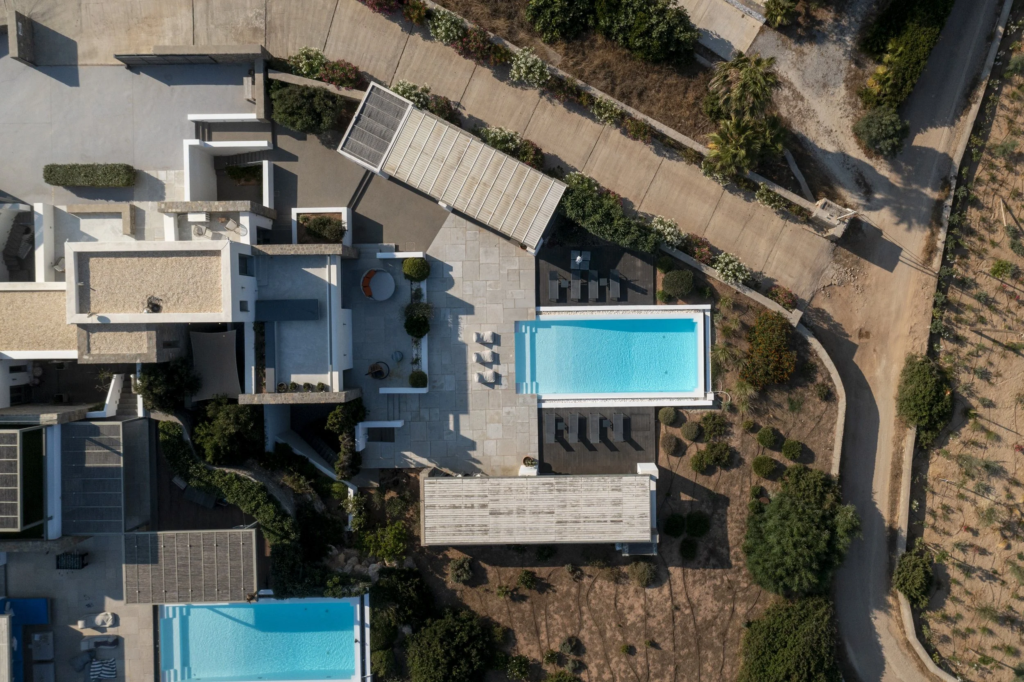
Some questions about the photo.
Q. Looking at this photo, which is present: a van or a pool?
pool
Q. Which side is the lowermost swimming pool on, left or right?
left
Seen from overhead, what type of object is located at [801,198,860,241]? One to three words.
shed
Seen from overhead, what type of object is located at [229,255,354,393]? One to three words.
house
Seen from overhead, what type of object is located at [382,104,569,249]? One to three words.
building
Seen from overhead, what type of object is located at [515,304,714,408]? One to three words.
swimming pool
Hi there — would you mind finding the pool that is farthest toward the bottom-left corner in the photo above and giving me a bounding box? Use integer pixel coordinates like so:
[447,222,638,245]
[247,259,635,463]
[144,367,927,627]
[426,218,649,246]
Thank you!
[147,587,371,682]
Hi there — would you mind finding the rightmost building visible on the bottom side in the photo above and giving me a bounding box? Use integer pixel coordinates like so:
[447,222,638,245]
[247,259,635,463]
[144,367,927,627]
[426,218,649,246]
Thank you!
[420,464,659,546]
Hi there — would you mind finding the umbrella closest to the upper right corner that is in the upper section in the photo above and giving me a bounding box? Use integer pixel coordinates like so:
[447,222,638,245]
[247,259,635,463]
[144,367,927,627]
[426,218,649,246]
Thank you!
[571,250,591,270]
